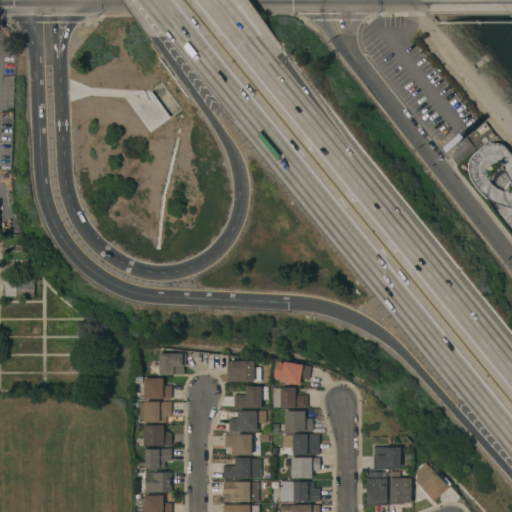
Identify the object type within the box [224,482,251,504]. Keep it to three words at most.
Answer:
house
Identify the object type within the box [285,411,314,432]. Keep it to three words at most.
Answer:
house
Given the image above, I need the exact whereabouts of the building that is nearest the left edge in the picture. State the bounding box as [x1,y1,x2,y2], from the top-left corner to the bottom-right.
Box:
[4,279,34,297]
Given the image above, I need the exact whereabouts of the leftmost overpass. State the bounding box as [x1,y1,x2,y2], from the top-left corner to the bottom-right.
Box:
[124,0,279,44]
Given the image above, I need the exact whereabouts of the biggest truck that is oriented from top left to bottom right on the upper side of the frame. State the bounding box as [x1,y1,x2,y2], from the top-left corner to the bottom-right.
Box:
[260,134,290,170]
